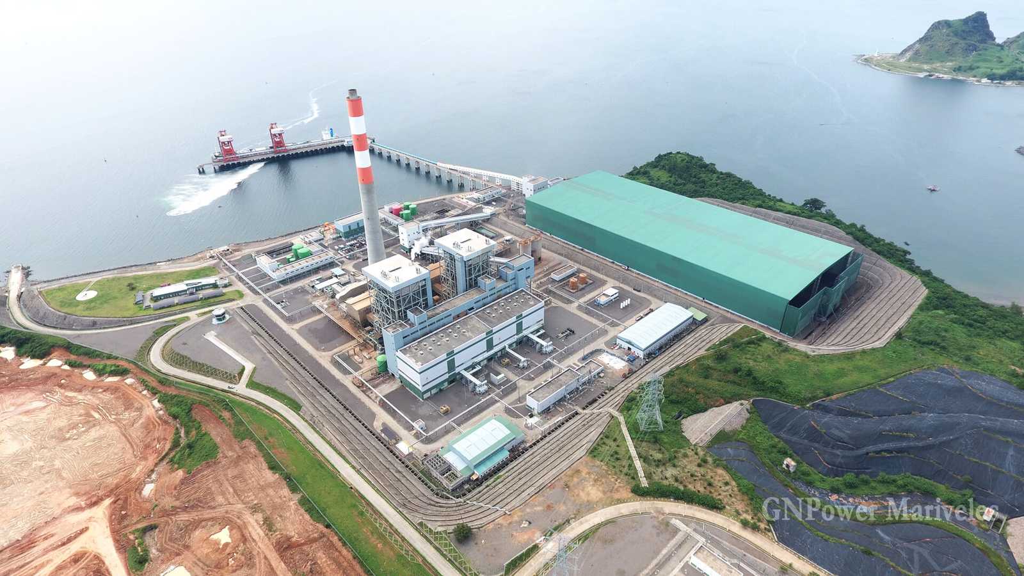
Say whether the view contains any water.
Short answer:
Yes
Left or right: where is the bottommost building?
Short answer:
right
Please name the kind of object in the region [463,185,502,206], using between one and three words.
building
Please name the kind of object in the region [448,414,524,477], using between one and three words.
building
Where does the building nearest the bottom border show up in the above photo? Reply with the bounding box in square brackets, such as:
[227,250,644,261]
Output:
[673,529,753,576]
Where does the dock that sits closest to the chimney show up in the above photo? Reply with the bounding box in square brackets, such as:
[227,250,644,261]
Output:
[368,141,486,188]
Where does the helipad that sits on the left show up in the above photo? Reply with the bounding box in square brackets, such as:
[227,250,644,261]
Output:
[73,289,100,301]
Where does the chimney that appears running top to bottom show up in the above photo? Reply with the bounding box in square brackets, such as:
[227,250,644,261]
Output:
[345,89,385,266]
